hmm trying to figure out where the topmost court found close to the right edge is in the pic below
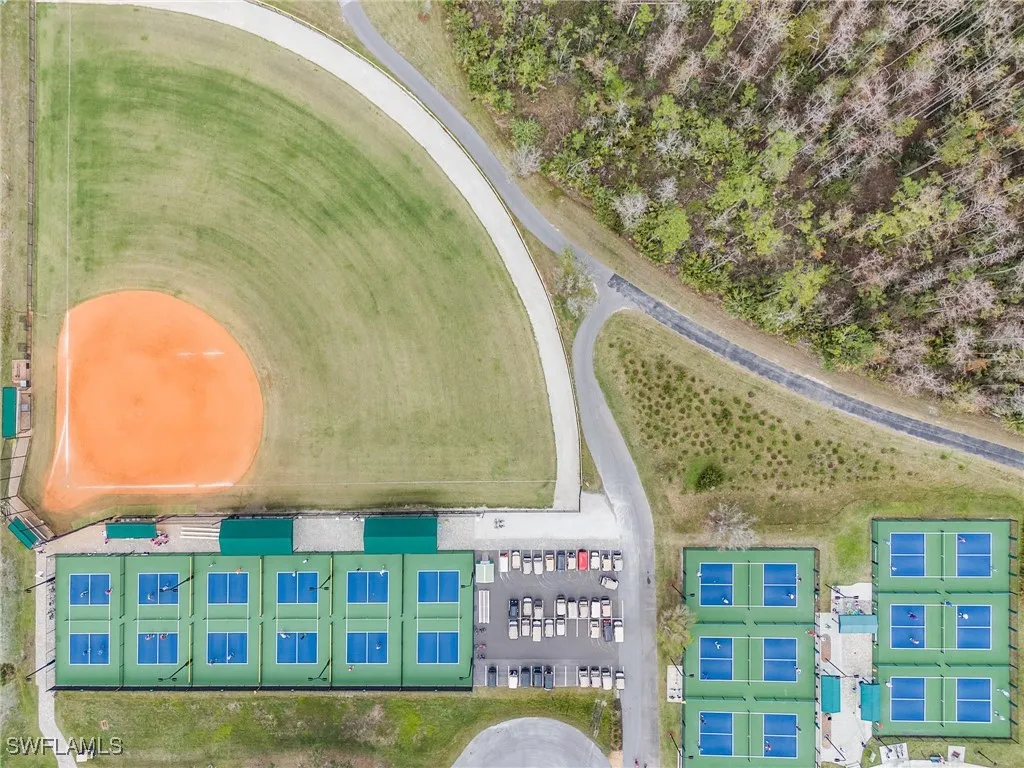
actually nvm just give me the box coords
[879,521,1010,592]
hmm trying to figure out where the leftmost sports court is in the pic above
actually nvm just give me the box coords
[55,556,124,687]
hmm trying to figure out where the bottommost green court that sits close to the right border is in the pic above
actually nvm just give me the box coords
[879,666,1010,736]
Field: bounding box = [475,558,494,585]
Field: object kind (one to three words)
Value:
shed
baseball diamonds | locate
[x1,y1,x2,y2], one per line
[19,0,585,537]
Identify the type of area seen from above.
sports ground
